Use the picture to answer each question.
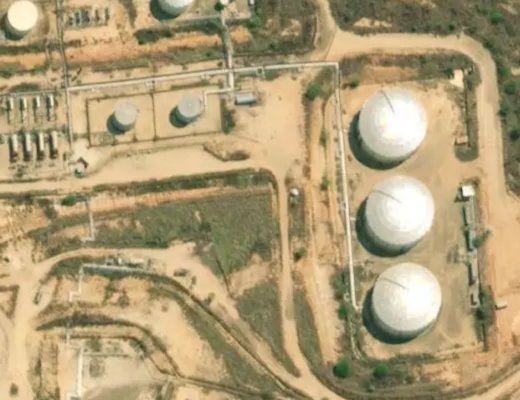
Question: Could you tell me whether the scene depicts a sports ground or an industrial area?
industrial area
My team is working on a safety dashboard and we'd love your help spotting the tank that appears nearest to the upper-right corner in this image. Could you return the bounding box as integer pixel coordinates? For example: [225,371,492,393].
[354,89,428,165]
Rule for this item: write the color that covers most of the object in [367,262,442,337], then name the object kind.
white storage tank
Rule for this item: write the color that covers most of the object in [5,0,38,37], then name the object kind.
white storage tank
